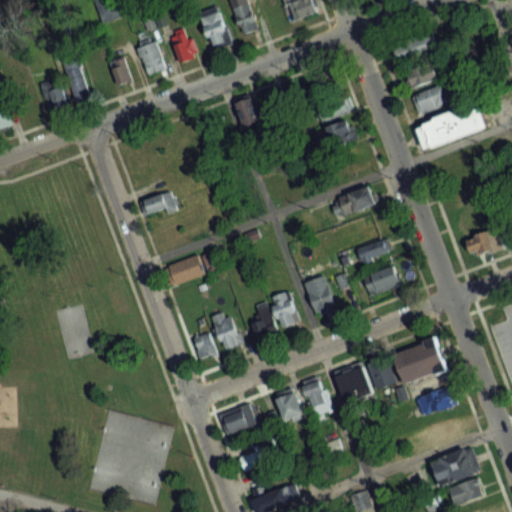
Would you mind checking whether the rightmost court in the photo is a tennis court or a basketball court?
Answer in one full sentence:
Specifically, the rightmost court is a basketball court.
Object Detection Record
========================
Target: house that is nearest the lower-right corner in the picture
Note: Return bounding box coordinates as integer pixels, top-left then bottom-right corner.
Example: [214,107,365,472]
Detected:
[450,479,486,508]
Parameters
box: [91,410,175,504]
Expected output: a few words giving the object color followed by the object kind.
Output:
gray basketball court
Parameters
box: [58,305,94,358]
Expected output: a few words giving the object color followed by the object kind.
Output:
gray basketball court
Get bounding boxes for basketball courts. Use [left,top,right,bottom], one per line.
[91,410,175,504]
[58,305,94,358]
